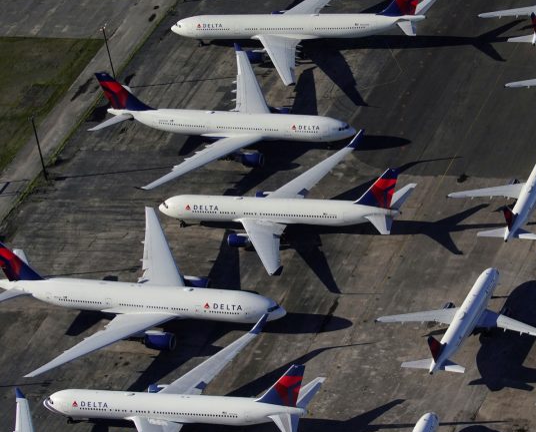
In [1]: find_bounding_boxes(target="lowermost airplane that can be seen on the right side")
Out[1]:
[408,414,434,432]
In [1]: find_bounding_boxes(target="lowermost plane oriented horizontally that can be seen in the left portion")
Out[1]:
[43,313,326,432]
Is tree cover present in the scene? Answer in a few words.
No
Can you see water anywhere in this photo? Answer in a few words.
No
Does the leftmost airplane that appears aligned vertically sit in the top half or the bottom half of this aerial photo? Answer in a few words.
bottom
